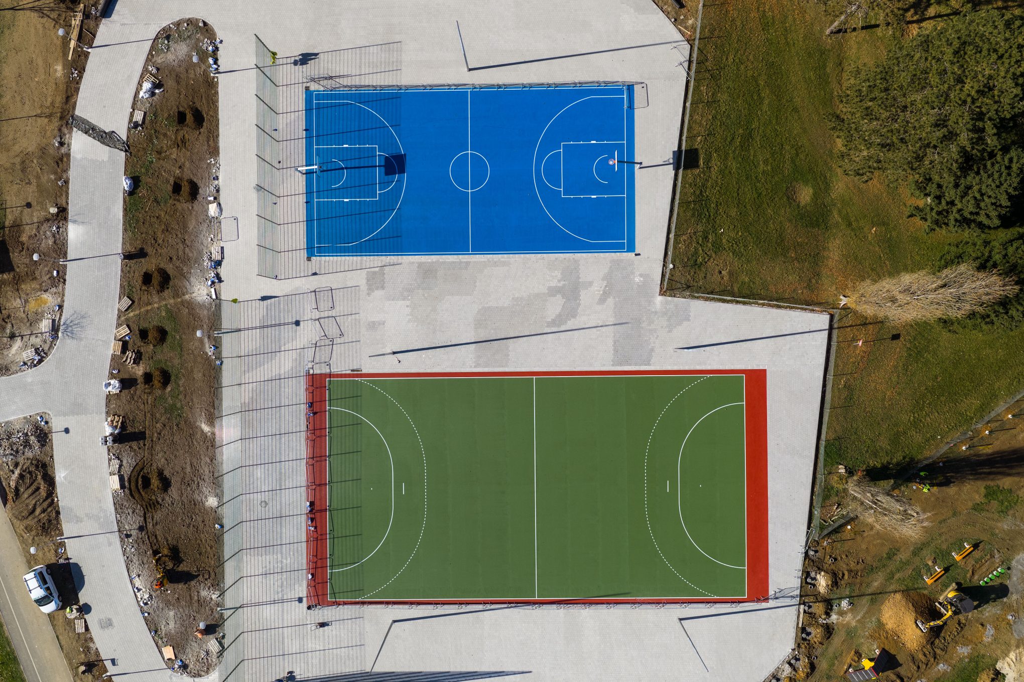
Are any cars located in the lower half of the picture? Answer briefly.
Yes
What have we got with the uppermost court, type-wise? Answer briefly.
basketball court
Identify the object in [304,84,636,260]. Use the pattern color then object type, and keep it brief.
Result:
blue basketball court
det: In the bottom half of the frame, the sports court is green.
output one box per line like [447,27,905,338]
[305,365,770,608]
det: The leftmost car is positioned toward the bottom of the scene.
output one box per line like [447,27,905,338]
[20,566,61,617]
